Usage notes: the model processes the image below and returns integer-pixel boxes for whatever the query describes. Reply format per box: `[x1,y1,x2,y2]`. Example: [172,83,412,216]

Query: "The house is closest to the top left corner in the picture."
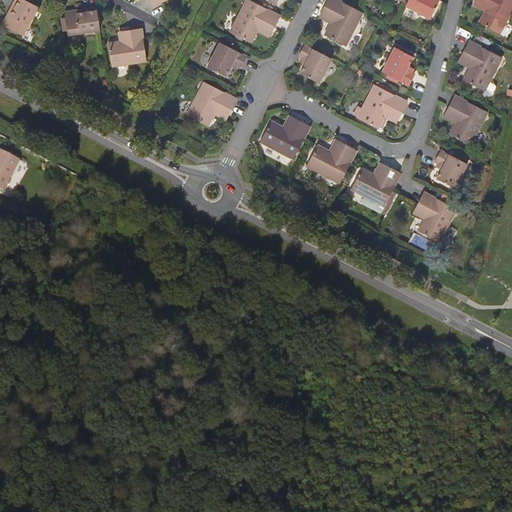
[4,0,41,34]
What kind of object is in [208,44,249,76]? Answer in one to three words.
house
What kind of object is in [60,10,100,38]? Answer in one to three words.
house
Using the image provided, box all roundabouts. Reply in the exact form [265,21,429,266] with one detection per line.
[192,172,232,212]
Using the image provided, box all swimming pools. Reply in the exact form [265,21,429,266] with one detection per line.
[409,232,430,250]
